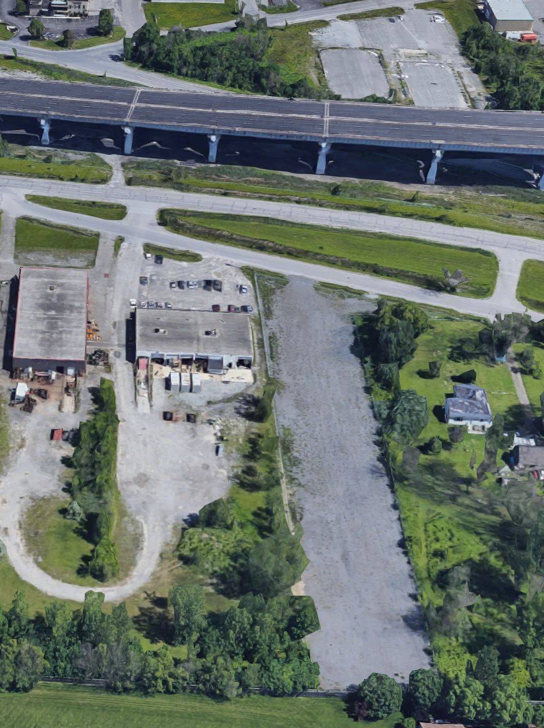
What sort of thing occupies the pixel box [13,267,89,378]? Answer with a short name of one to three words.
building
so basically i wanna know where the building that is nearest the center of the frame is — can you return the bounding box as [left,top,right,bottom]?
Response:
[134,306,254,374]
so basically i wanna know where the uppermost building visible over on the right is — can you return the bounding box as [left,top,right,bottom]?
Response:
[480,0,534,35]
